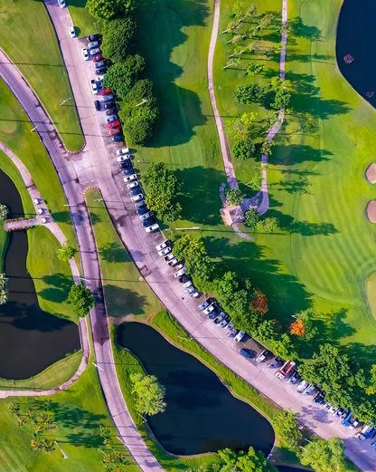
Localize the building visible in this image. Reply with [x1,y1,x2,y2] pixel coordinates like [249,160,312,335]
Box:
[218,204,243,226]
